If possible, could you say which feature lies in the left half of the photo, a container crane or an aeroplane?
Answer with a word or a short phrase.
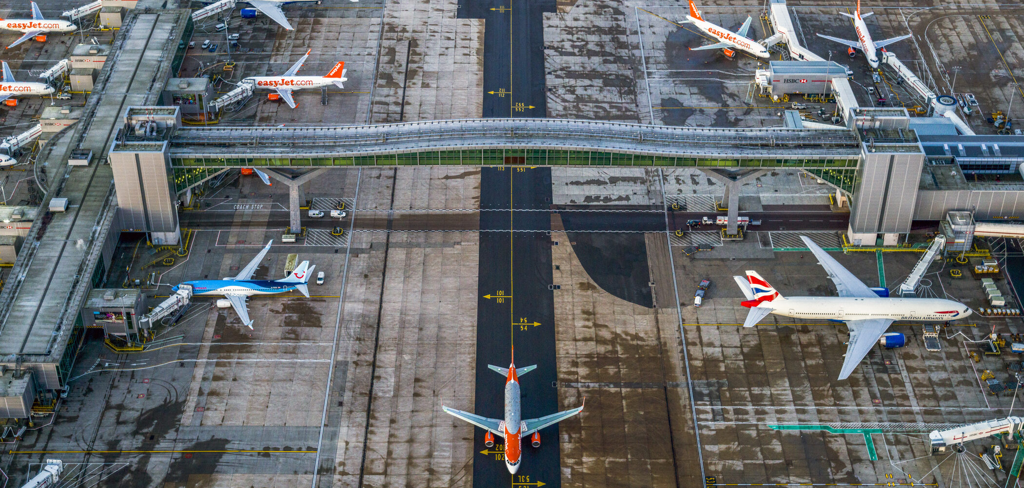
aeroplane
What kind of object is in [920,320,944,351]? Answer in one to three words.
work vehicle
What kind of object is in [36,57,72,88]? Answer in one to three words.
jet bridge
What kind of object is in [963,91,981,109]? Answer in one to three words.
work vehicle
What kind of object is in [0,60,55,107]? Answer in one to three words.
airplane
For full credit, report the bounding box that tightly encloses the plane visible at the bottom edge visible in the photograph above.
[441,349,582,477]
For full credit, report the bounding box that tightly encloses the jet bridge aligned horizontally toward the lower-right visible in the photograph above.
[929,414,1021,457]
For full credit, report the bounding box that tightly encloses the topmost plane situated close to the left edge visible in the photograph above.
[0,1,77,49]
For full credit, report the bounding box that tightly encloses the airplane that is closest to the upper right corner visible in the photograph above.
[817,0,912,68]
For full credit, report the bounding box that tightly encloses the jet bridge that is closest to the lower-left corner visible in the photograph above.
[20,456,67,488]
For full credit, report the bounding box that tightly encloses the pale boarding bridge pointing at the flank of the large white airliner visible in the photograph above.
[902,239,947,297]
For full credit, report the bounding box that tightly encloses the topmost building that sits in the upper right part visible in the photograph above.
[769,60,848,98]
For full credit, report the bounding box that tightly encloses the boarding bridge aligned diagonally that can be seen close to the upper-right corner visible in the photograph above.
[876,54,939,117]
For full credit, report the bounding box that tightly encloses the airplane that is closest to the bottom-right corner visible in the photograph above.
[734,236,972,379]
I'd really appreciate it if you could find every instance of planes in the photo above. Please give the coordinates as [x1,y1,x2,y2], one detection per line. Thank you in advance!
[0,60,55,107]
[236,47,346,107]
[674,3,770,58]
[441,349,582,477]
[734,236,972,379]
[817,0,912,68]
[0,150,17,173]
[0,1,77,49]
[172,239,311,329]
[240,0,335,31]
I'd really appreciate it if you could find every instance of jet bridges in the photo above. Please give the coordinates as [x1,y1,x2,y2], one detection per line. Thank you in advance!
[62,0,107,29]
[0,122,48,158]
[142,286,195,343]
[902,239,947,297]
[210,81,255,122]
[20,456,67,488]
[36,57,72,88]
[876,54,939,117]
[201,0,241,23]
[929,414,1021,457]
